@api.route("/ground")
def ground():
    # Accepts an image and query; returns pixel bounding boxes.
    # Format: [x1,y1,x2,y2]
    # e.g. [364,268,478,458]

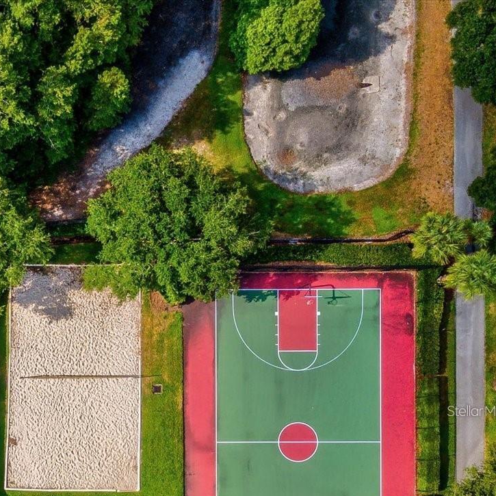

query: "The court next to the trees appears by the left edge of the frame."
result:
[4,264,142,494]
